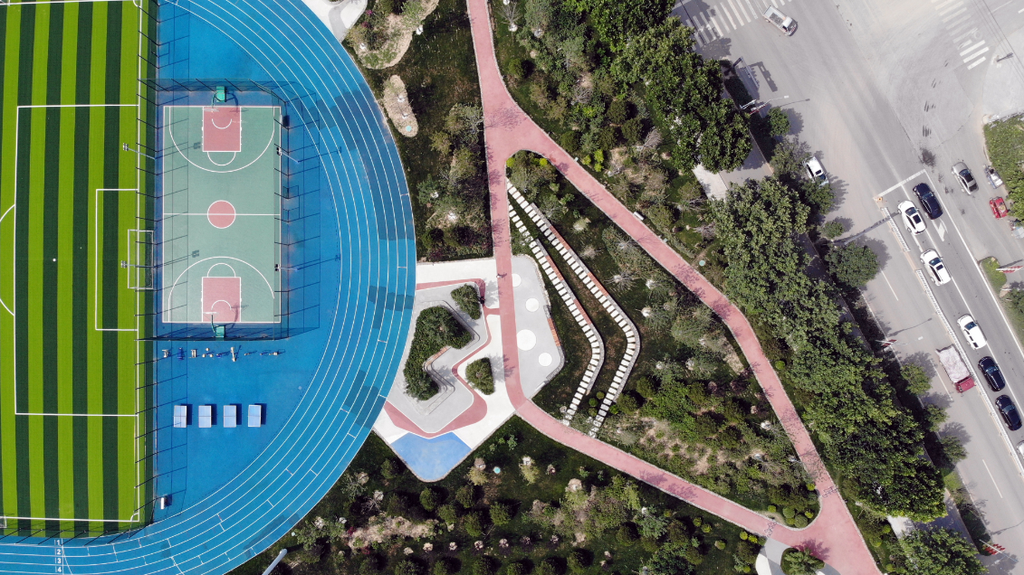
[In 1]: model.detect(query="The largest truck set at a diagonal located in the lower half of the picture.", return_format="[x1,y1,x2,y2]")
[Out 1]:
[938,345,980,395]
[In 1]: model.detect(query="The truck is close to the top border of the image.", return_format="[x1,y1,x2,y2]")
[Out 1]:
[762,5,795,35]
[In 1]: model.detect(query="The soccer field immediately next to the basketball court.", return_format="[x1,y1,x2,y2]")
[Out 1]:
[0,0,158,539]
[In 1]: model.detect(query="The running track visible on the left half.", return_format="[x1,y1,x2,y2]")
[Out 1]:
[0,0,416,575]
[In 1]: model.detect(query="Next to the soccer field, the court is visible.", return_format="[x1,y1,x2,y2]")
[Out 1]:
[158,89,289,338]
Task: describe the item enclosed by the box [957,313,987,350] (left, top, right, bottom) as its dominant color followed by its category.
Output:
white car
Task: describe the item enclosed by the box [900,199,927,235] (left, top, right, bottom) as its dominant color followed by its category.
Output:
white car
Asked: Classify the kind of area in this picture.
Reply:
sports ground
